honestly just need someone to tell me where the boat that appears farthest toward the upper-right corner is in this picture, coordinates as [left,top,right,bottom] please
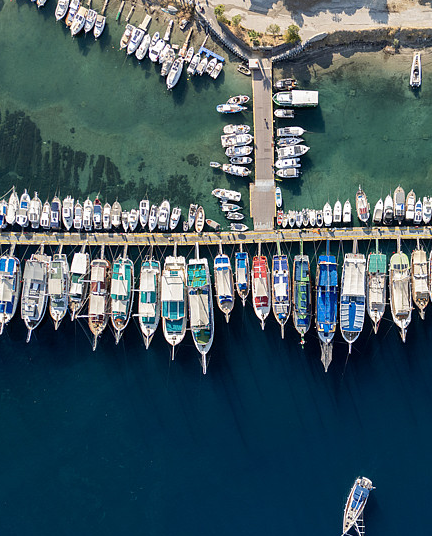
[409,52,422,91]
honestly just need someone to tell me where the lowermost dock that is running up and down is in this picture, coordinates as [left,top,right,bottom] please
[249,58,277,229]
